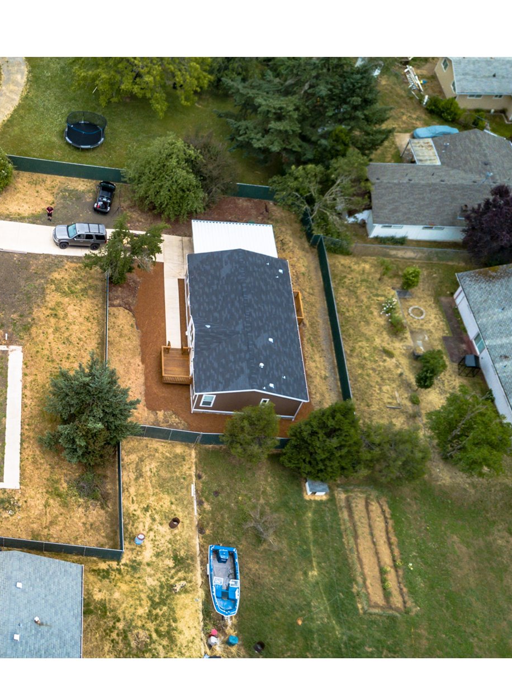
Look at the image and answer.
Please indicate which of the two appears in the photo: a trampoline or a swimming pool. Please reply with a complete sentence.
The one in the frame is a trampoline.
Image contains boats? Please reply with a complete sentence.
Yes, a boat appears in the view.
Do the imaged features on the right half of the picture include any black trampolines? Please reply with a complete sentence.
No, no black trampoline can be made out on the right half of the picture.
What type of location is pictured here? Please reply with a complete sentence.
This looks like a residential area.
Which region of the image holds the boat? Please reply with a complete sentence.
The boat is located in the bottom region of the scene.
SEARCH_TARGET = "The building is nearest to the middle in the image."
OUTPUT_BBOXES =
[183,248,311,422]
